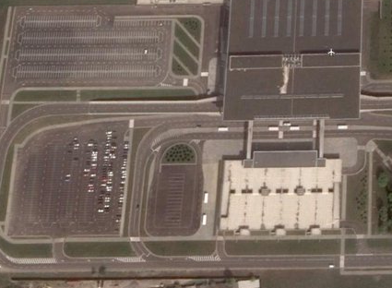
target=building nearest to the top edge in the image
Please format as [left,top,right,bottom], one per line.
[221,0,363,120]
